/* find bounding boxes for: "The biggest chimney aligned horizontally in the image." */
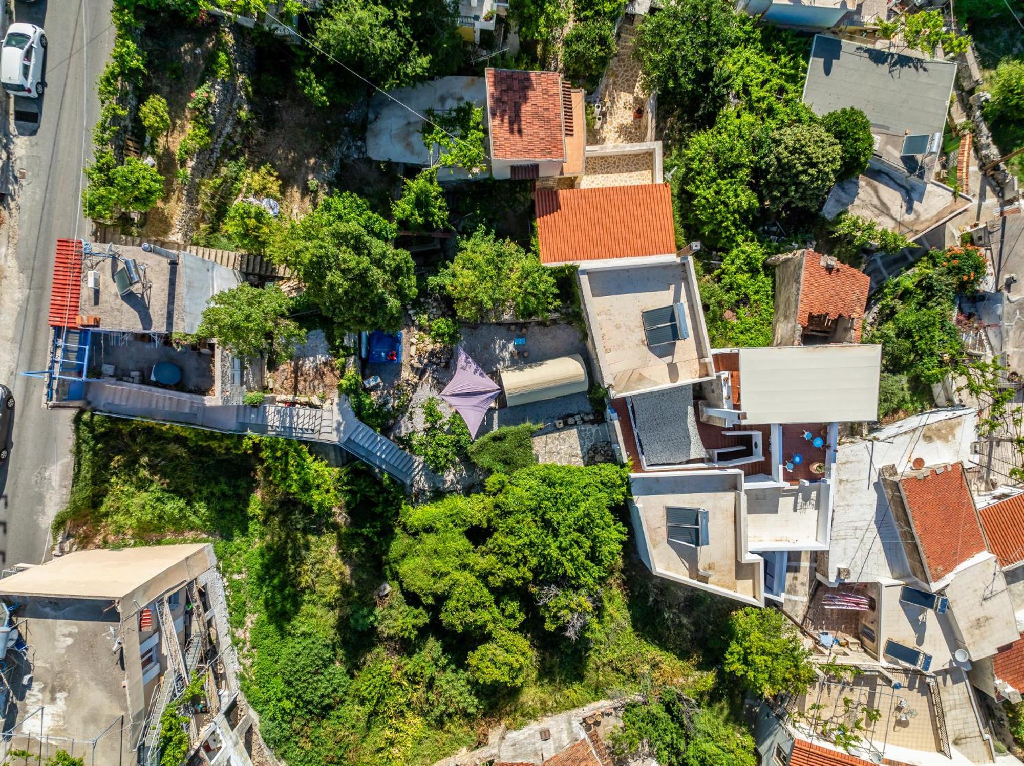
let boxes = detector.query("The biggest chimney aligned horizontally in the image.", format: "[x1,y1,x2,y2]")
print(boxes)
[696,400,749,427]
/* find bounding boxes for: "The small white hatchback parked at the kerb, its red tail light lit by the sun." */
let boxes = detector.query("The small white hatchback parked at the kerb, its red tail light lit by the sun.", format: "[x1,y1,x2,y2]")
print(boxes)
[0,23,46,97]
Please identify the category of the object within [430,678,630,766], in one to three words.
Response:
house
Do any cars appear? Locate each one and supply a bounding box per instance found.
[0,392,13,462]
[0,23,46,97]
